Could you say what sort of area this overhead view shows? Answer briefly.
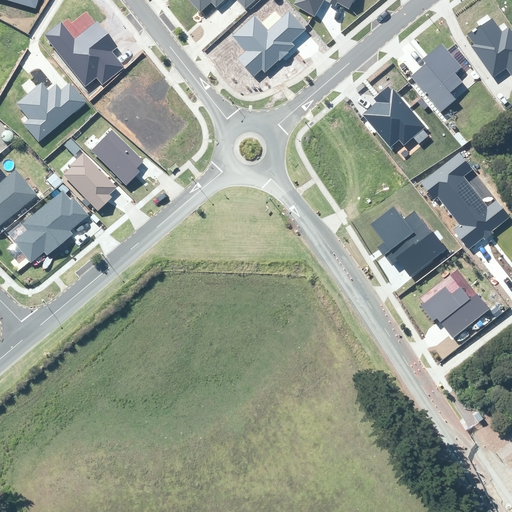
residential area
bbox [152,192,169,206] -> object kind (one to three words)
vehicle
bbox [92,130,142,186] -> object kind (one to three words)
house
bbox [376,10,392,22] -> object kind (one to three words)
vehicle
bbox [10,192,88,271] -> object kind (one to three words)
house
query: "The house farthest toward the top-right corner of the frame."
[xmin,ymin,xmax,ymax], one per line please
[468,18,512,76]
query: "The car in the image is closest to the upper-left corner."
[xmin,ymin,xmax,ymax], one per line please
[117,49,132,63]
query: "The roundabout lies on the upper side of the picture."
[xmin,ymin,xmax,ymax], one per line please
[216,114,284,183]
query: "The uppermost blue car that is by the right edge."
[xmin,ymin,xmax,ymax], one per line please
[478,244,490,260]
